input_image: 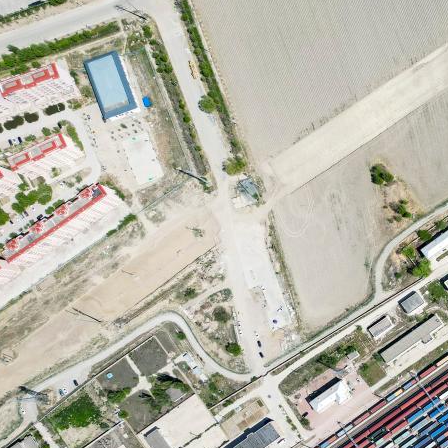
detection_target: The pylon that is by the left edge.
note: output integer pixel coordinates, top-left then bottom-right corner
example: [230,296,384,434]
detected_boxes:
[18,393,47,408]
